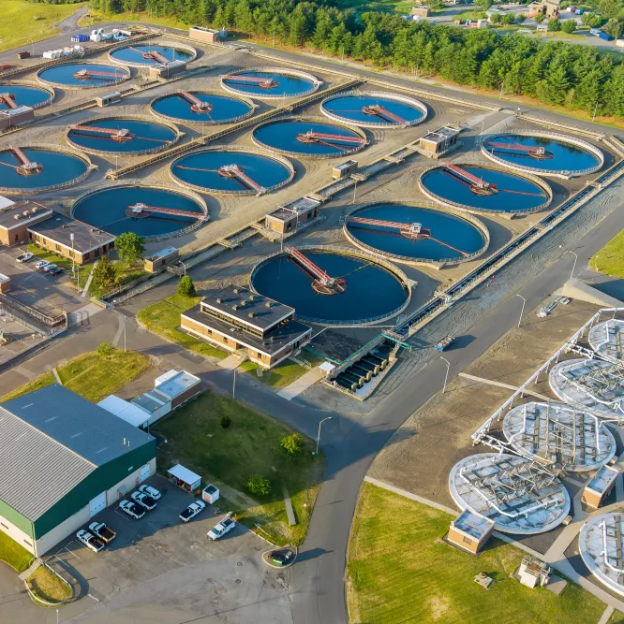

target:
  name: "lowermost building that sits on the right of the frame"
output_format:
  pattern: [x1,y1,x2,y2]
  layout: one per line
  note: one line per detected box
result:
[447,508,497,554]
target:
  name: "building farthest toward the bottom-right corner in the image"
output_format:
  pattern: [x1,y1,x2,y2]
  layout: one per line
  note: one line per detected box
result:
[580,467,619,509]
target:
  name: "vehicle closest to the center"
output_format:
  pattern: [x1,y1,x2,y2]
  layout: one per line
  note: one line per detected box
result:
[434,328,460,352]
